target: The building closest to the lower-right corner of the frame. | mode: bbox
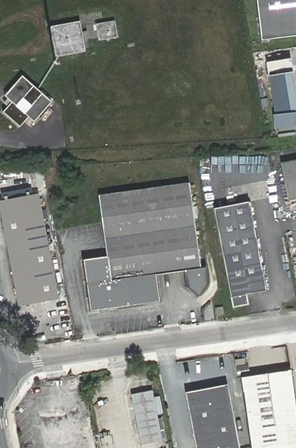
[242,369,296,448]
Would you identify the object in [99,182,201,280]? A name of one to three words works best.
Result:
building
